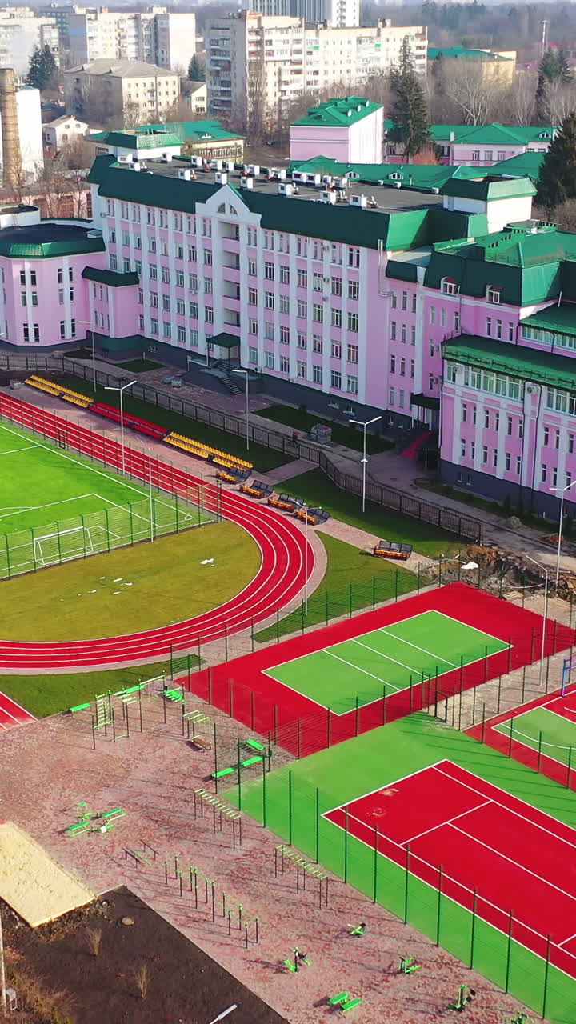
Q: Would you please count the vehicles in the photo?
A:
0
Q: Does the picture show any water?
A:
No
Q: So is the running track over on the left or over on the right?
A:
left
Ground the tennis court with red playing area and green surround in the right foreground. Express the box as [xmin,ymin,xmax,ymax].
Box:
[217,710,576,1024]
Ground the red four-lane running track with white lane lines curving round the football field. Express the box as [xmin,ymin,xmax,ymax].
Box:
[0,396,327,732]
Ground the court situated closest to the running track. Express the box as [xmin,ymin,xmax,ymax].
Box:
[171,580,576,759]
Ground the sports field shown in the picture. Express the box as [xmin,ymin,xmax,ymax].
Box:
[0,423,215,580]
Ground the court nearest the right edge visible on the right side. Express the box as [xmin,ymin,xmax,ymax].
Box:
[463,682,576,790]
